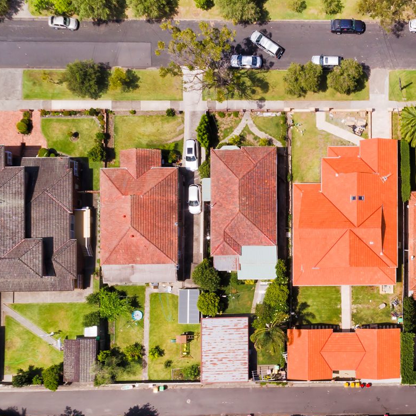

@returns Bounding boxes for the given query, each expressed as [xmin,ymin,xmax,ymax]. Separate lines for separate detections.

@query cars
[183,138,199,170]
[331,18,366,34]
[233,55,262,70]
[48,16,80,31]
[188,184,203,213]
[251,33,284,59]
[312,54,344,70]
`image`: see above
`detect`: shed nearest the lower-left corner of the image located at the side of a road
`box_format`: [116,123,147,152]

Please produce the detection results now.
[64,339,100,383]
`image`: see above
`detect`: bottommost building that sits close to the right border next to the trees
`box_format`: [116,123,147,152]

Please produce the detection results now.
[286,328,401,382]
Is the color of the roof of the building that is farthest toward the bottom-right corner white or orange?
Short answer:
orange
